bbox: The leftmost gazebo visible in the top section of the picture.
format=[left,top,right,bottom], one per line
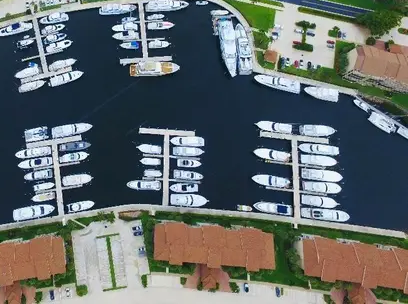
[263,51,277,63]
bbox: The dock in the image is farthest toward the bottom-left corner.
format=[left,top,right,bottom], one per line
[26,134,83,216]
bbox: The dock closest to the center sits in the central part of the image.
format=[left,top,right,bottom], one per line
[139,127,200,206]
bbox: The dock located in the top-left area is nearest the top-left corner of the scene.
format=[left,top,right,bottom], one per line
[19,18,73,84]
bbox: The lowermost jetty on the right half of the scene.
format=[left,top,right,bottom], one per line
[260,131,329,217]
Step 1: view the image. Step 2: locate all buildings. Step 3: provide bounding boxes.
[294,233,408,304]
[0,234,67,304]
[342,43,408,94]
[152,221,276,290]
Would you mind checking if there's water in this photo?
Yes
